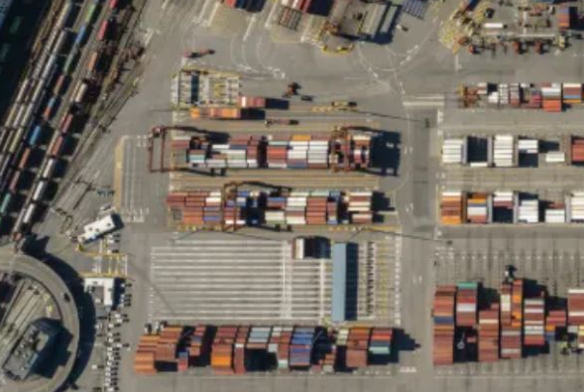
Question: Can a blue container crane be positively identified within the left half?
No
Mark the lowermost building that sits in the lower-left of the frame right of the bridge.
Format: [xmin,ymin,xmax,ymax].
[84,276,117,305]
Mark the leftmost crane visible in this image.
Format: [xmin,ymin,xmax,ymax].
[147,123,179,172]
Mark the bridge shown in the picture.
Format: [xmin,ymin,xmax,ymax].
[0,252,81,392]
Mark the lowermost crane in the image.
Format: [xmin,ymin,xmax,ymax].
[221,178,251,229]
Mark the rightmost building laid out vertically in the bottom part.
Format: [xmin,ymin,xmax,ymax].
[331,241,347,321]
